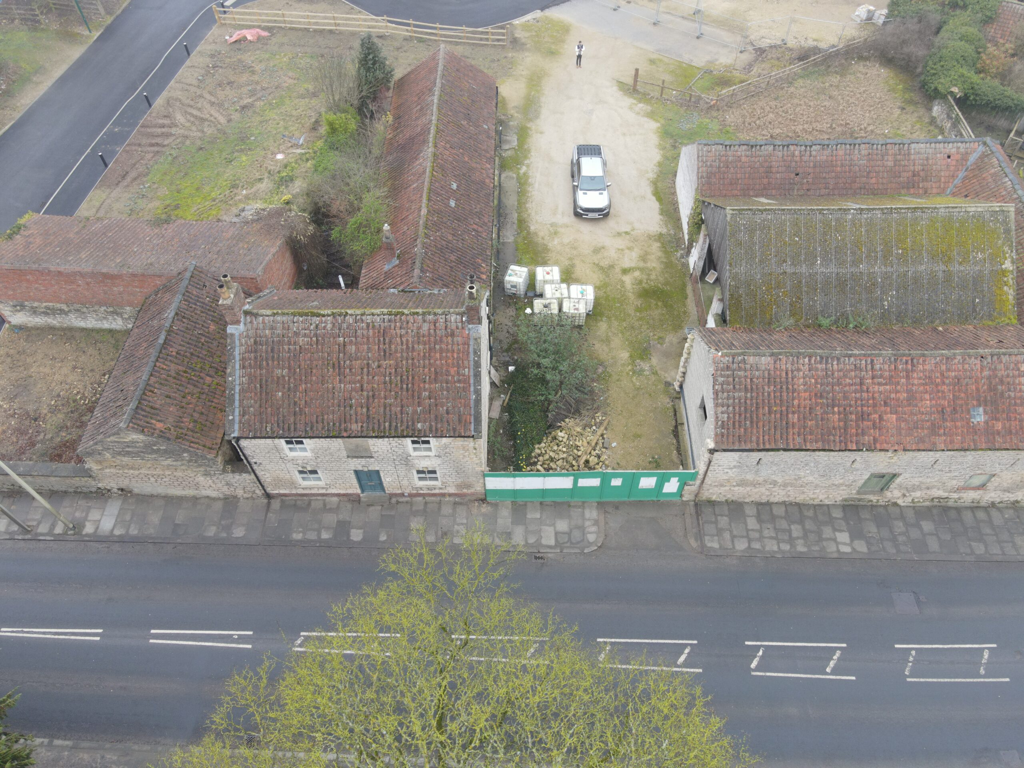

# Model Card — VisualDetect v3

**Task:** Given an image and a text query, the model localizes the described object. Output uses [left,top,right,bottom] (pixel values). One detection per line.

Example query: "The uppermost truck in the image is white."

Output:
[571,144,613,219]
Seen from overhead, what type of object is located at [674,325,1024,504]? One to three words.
barn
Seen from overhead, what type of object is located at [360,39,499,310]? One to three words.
shed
